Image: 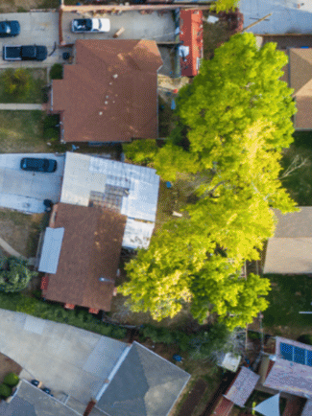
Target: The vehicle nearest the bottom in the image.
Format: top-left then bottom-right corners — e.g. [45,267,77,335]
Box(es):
[19,155,58,173]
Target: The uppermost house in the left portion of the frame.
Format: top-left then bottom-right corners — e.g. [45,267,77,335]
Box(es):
[49,38,163,144]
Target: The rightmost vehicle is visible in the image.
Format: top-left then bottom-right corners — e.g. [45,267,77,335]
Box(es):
[70,14,113,34]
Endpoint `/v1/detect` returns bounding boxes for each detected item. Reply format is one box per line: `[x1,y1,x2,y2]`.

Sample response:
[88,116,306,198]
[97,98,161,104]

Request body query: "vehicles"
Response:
[70,14,113,34]
[0,19,20,36]
[1,43,49,61]
[19,155,58,173]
